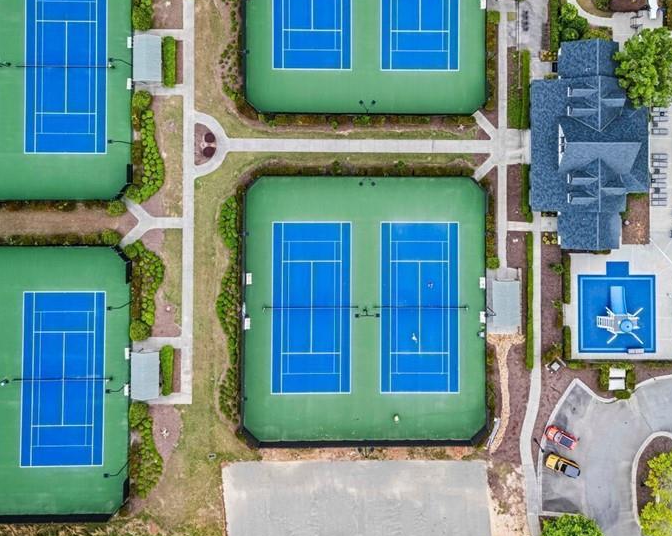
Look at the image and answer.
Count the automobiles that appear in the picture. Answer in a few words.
2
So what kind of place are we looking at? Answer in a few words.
sports ground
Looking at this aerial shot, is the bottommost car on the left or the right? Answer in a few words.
right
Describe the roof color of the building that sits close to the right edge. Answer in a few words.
blue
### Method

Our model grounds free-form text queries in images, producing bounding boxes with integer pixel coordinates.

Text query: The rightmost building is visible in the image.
[529,37,648,251]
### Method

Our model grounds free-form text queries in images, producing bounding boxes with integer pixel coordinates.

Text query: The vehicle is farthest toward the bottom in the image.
[546,453,581,481]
